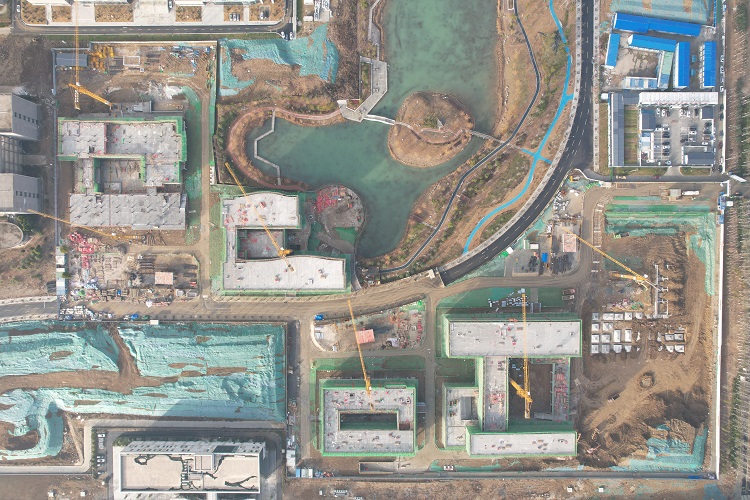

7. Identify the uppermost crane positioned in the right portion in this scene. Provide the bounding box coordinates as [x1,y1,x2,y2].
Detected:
[578,235,662,291]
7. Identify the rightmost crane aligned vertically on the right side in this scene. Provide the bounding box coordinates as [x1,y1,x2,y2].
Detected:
[508,291,536,425]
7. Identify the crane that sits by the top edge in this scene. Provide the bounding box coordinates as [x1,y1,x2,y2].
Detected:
[67,0,115,109]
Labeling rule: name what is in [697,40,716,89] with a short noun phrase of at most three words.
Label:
building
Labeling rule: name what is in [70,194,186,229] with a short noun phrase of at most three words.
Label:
building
